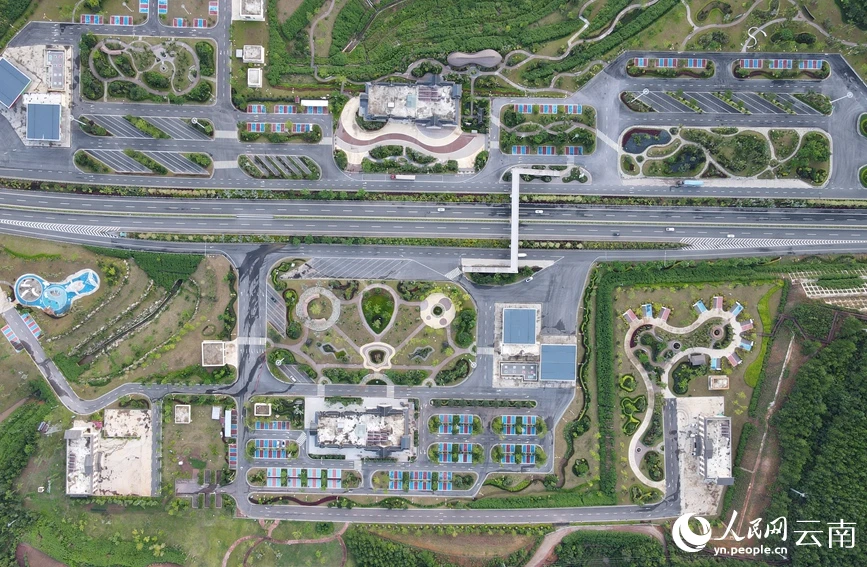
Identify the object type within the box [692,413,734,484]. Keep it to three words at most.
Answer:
building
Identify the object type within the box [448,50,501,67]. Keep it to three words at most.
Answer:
building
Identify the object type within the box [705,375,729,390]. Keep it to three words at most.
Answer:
house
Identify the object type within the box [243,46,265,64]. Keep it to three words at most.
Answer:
house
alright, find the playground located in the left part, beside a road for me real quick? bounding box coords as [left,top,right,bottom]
[14,268,100,317]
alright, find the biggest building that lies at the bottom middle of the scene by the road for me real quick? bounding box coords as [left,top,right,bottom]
[310,404,410,459]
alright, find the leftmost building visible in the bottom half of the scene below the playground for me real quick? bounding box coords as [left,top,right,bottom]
[64,421,103,496]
